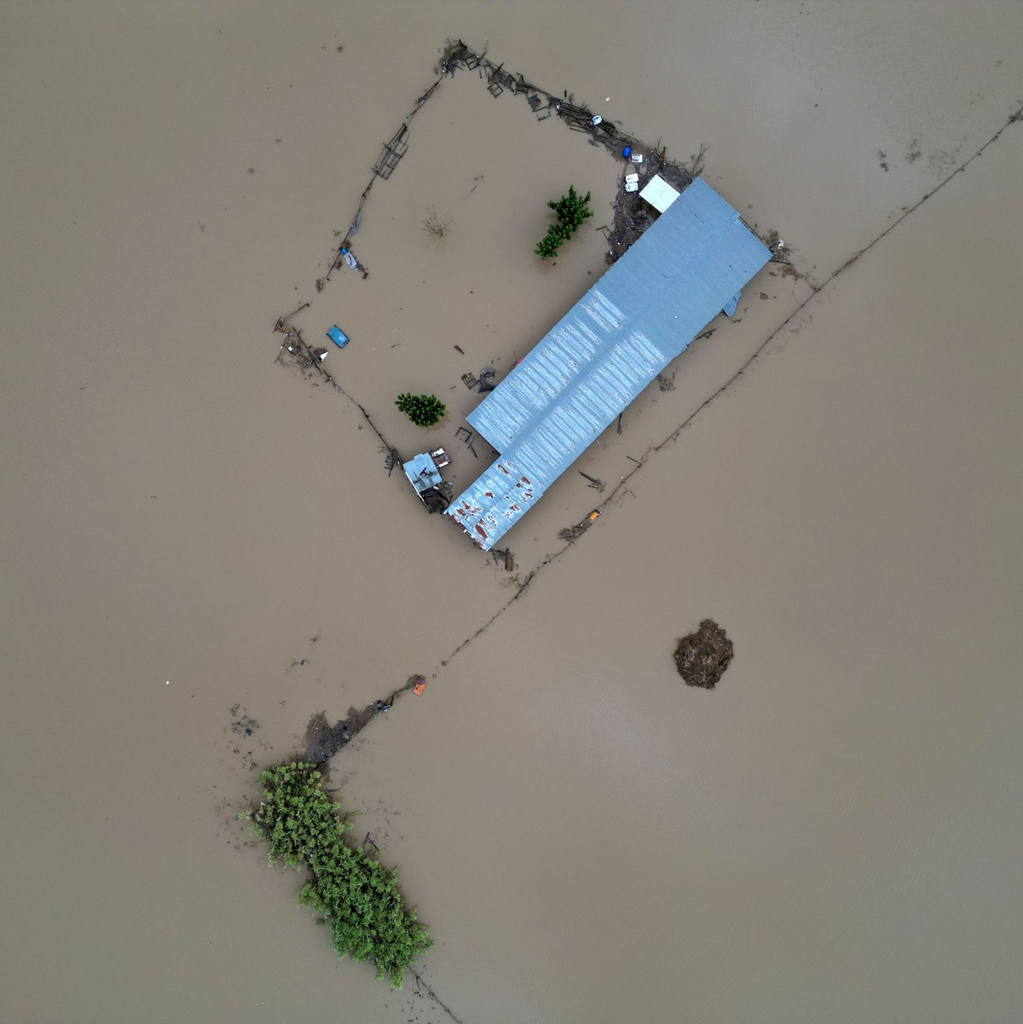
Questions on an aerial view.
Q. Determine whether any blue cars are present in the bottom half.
No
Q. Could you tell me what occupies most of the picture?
water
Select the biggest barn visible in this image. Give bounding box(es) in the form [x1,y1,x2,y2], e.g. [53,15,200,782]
[444,177,773,551]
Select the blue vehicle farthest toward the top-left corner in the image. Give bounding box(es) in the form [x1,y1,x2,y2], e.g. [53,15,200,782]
[326,324,350,348]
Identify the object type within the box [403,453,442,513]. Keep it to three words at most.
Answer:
shed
